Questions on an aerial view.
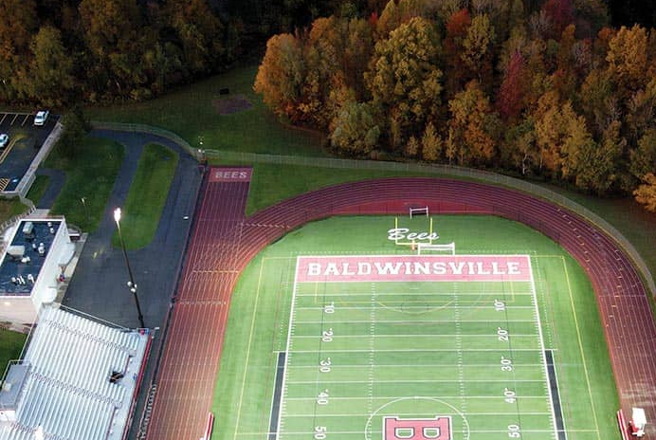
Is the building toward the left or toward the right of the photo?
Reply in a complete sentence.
The building appears in the left half of the scene.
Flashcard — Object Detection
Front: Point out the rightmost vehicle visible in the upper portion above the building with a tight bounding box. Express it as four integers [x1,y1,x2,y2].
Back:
[34,109,46,123]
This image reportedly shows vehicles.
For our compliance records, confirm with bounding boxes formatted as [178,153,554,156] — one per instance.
[0,133,9,145]
[631,409,646,433]
[34,109,46,123]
